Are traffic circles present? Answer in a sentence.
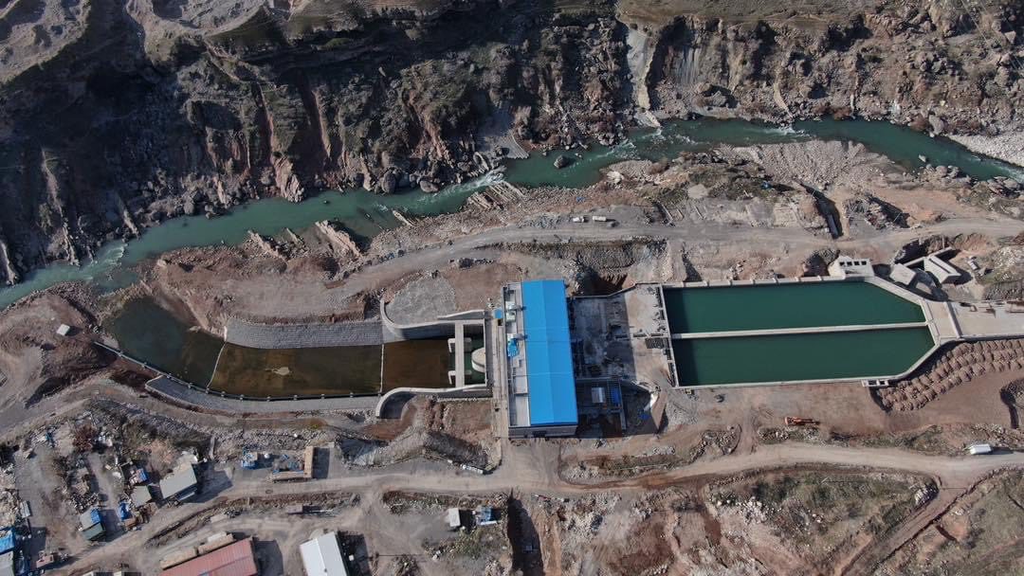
No, there is no traffic circle in the image.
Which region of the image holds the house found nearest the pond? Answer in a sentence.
The house found nearest the pond appears toward the right of the photo.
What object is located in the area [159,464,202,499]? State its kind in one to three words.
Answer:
house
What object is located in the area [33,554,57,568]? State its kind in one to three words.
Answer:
vehicle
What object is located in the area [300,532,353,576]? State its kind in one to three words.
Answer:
building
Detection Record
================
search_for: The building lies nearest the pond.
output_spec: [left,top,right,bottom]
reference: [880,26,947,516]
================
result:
[828,256,875,282]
